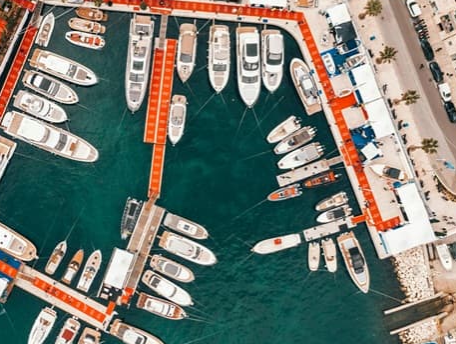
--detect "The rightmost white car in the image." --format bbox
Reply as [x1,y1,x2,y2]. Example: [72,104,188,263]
[436,82,454,103]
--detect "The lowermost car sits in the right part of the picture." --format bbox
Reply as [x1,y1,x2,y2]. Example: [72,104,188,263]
[443,101,456,124]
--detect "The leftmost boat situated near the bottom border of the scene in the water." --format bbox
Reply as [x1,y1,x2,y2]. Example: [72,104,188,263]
[27,303,57,344]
